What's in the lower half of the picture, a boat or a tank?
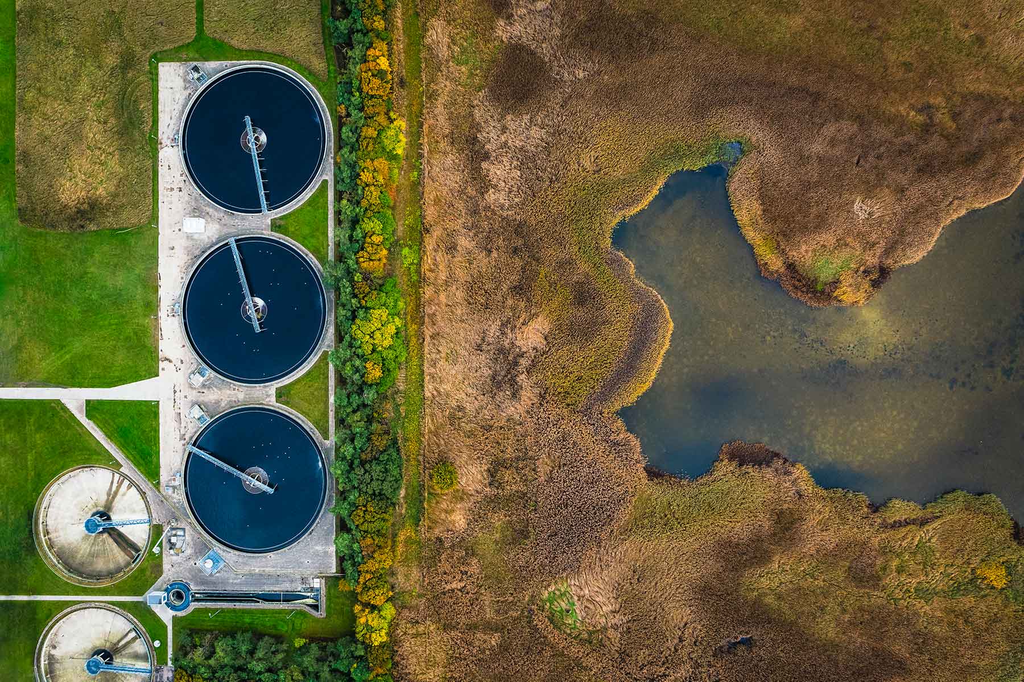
tank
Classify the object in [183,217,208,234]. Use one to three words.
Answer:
shed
